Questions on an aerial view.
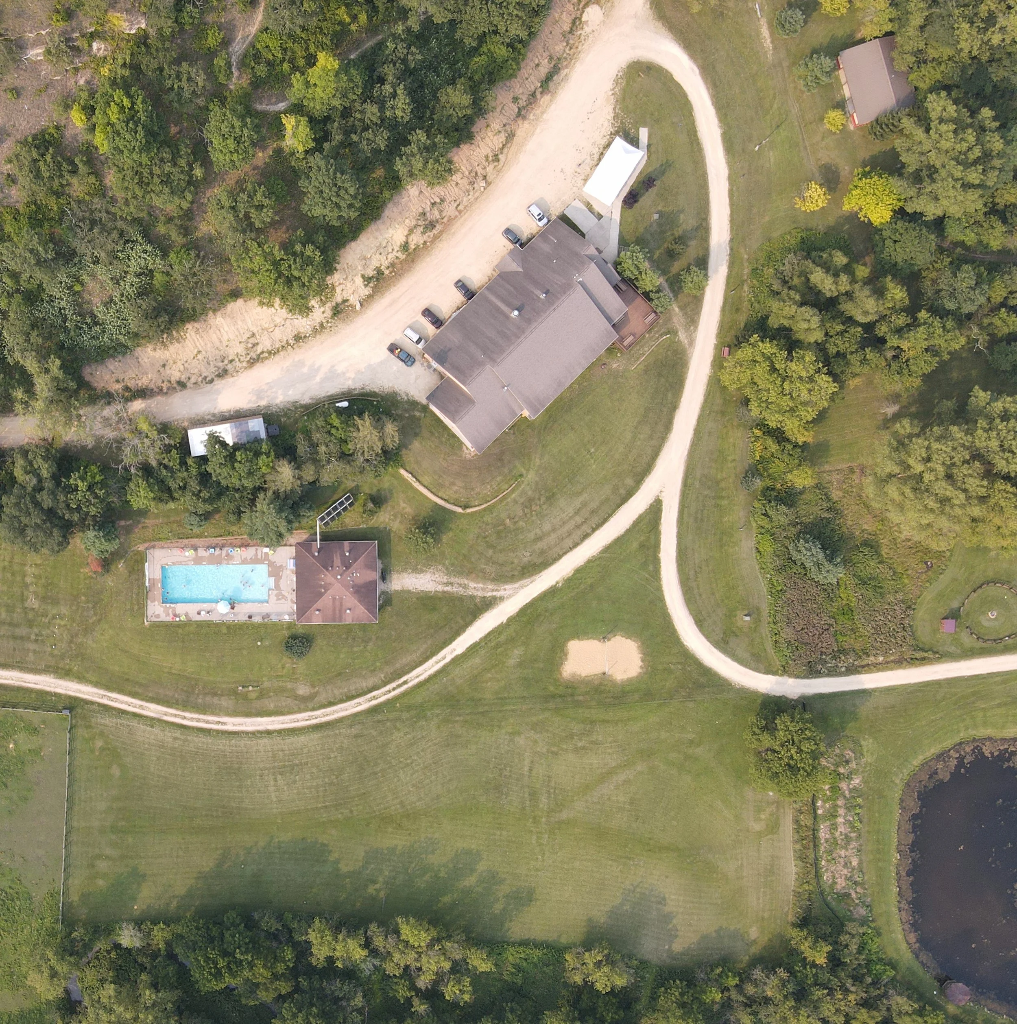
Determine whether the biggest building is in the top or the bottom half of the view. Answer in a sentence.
The biggest building is in the top half of the image.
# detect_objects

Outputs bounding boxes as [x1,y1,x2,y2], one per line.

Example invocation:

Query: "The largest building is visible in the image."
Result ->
[422,216,628,454]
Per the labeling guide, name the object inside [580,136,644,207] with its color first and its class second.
white tent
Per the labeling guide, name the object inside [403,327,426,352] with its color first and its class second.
white car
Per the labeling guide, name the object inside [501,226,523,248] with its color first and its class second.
gray car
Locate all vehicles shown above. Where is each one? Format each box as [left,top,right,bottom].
[453,278,474,302]
[526,203,548,228]
[387,342,415,367]
[403,327,426,352]
[501,226,523,248]
[421,307,443,330]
